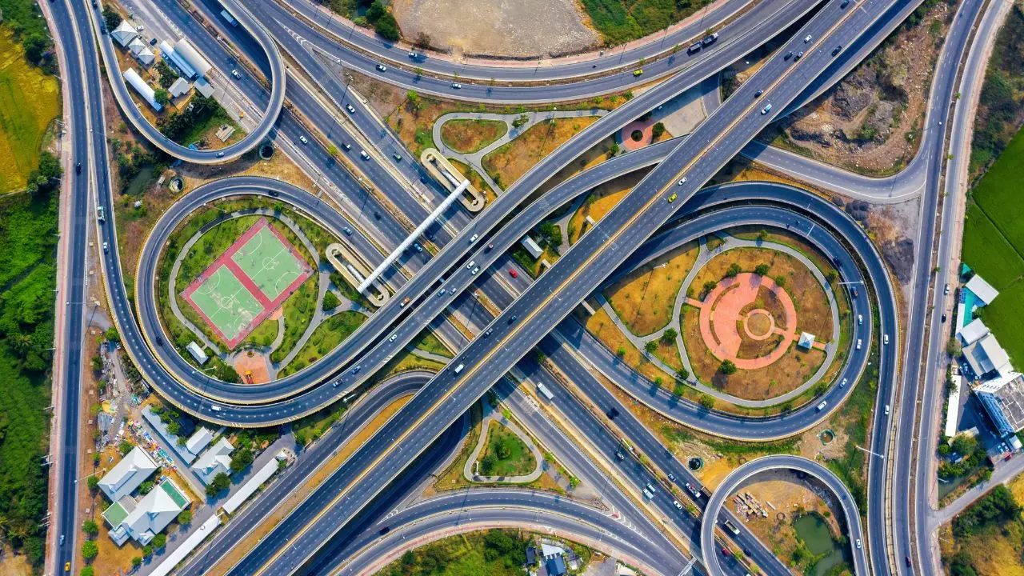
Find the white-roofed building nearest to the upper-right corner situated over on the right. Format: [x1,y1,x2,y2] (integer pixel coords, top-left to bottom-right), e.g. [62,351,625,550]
[960,272,1000,303]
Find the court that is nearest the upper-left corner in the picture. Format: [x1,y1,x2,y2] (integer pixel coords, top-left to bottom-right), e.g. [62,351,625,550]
[179,217,315,350]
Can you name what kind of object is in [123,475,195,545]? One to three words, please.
building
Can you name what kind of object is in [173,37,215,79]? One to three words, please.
building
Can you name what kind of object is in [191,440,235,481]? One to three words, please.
house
